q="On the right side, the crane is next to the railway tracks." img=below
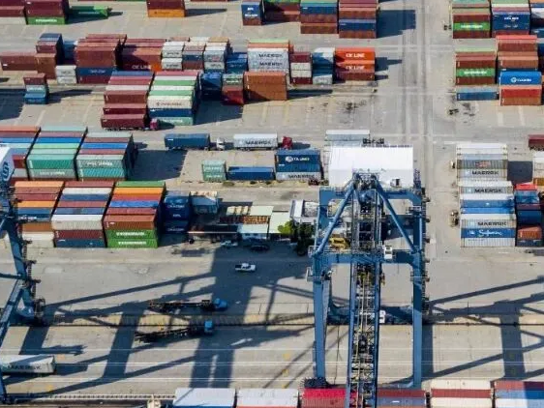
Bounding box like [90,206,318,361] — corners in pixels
[297,141,436,408]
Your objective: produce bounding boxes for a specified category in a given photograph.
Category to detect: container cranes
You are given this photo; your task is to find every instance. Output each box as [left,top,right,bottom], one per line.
[0,142,48,401]
[297,141,436,408]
